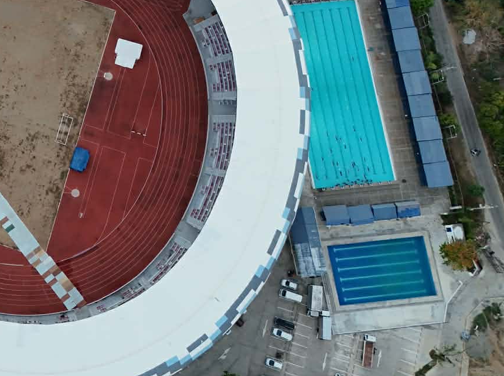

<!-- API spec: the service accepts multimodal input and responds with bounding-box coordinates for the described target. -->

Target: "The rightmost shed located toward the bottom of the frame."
[438,225,466,241]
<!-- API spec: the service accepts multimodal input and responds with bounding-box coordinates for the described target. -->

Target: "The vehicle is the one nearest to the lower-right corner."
[361,334,379,369]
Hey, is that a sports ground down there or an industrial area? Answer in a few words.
sports ground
